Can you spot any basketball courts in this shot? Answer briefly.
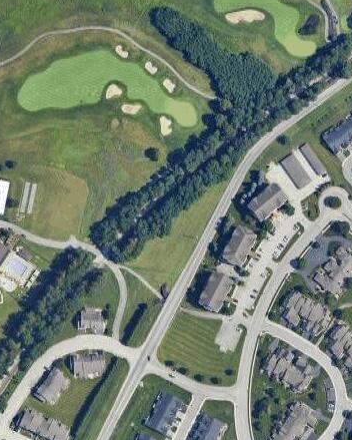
No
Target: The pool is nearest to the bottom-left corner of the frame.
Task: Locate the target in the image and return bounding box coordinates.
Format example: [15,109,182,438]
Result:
[1,277,17,292]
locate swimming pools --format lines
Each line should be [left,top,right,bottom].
[1,277,17,292]
[0,251,37,287]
